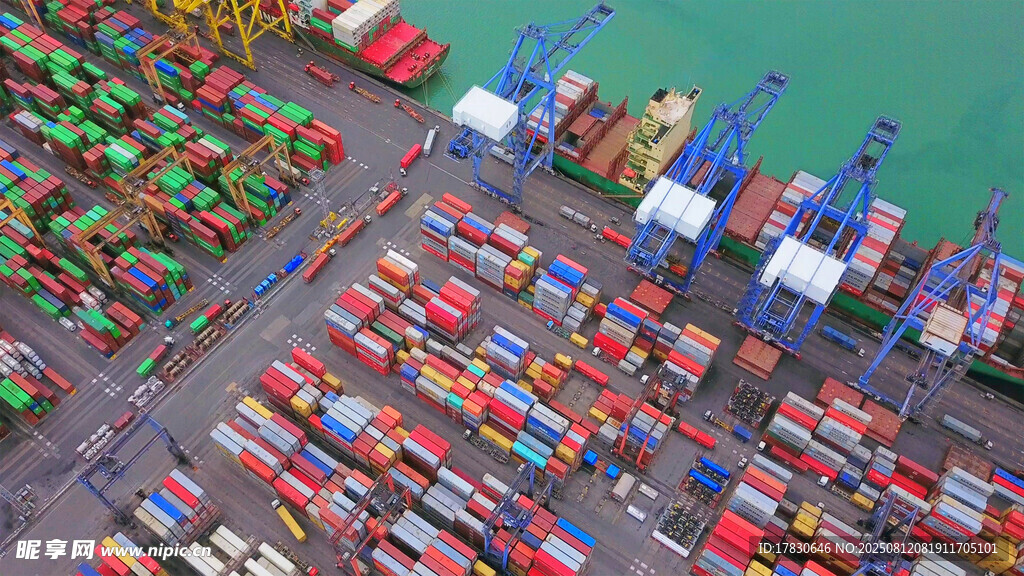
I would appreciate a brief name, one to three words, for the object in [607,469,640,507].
shed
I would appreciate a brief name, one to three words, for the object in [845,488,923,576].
container crane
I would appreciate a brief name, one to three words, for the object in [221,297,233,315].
vehicle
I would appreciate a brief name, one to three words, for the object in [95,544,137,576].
shipping container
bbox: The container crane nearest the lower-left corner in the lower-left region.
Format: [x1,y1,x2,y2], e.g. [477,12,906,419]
[75,413,190,525]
